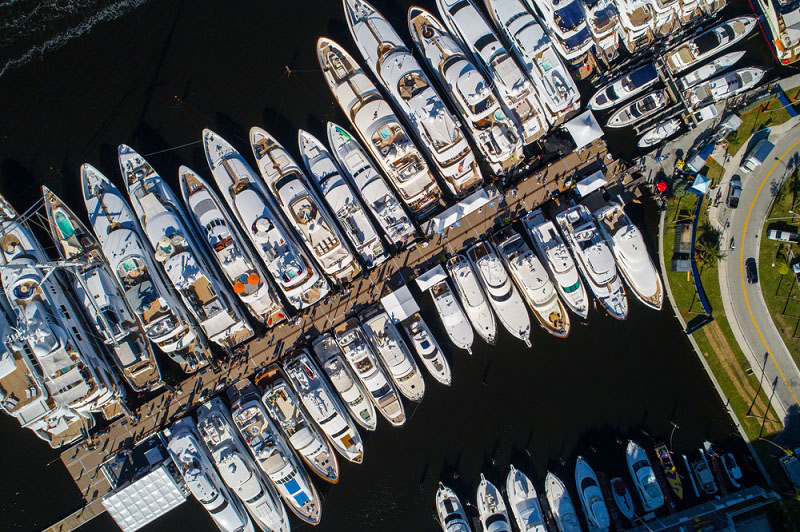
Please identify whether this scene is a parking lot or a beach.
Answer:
parking lot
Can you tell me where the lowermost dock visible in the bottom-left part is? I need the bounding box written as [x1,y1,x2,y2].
[38,493,109,532]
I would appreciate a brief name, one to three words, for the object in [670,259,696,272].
building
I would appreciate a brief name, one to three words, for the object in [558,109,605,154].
tent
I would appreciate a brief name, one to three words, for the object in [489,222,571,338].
boat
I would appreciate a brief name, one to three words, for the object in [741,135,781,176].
truck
